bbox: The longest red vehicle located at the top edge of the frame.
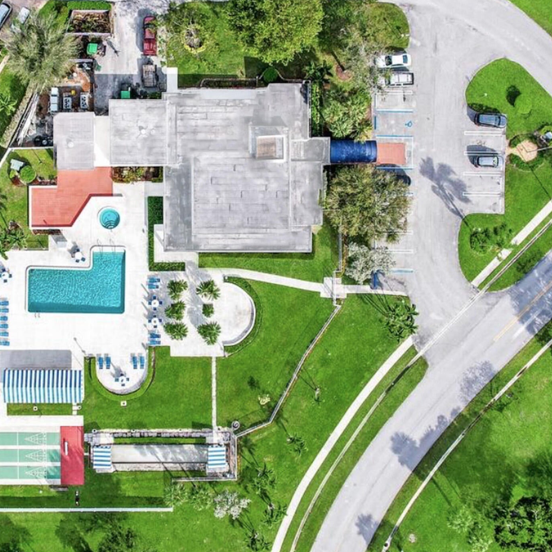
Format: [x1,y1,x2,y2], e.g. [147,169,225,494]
[143,15,159,56]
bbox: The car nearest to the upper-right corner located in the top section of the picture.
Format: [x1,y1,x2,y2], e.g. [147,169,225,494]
[472,113,507,129]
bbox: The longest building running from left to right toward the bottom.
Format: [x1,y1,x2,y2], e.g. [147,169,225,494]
[5,367,86,403]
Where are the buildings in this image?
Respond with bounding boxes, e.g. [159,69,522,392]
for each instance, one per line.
[5,367,86,403]
[54,68,330,253]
